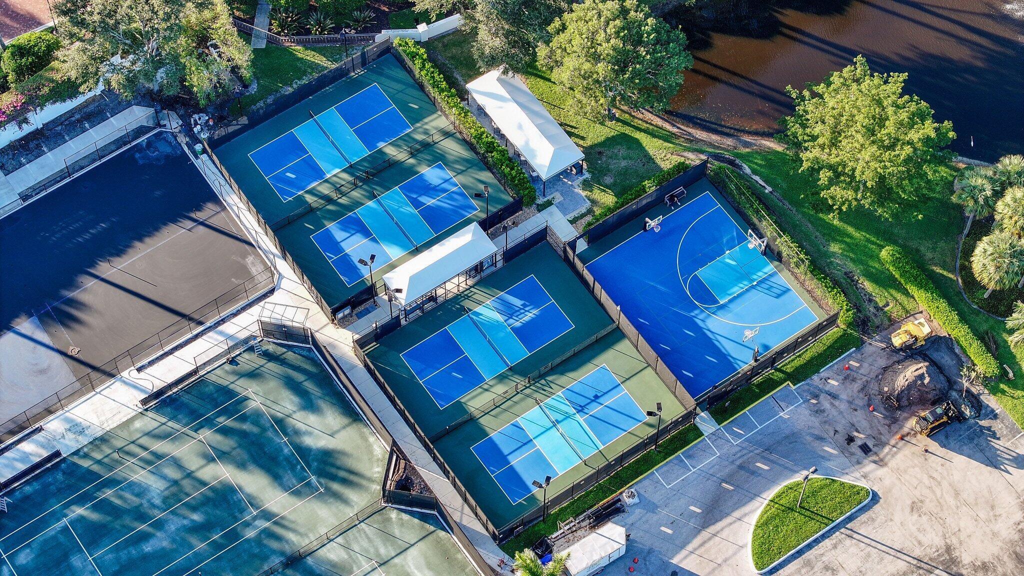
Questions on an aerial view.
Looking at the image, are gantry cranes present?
No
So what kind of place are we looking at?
sports ground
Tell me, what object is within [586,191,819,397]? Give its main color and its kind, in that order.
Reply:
blue basketball court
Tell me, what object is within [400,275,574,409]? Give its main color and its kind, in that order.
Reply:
blue sports court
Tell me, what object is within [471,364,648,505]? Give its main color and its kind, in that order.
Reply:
blue sports court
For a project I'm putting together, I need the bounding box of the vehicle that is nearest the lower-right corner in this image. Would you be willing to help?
[912,403,964,442]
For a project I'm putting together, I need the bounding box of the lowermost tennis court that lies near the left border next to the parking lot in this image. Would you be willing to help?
[0,336,389,576]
